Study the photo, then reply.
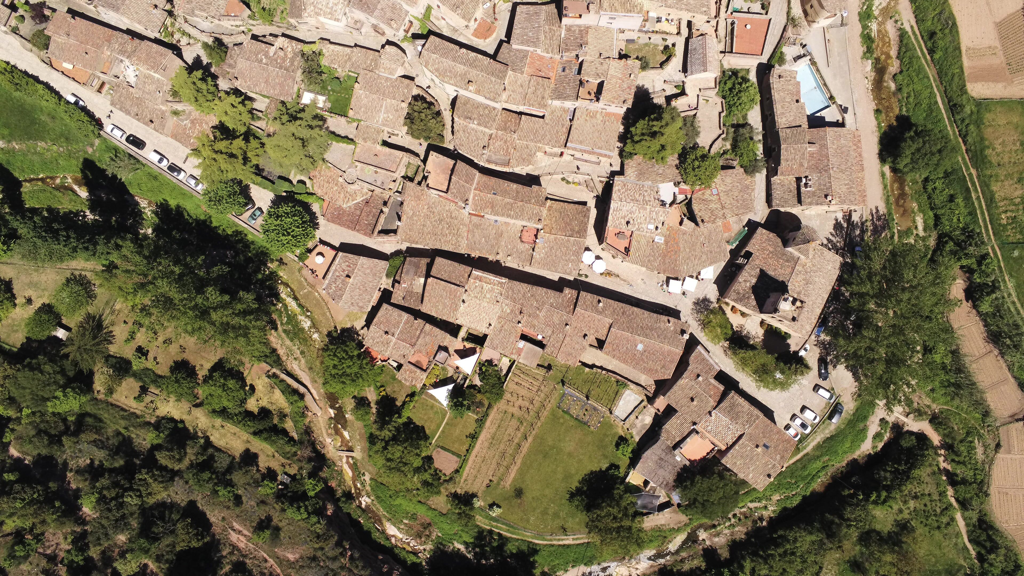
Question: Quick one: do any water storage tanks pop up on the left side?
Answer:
No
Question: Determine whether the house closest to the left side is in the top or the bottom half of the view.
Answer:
top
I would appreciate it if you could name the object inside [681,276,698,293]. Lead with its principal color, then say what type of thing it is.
white umbrella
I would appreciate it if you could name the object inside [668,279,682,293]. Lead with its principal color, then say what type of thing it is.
white umbrella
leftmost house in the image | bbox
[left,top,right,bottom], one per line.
[0,4,28,35]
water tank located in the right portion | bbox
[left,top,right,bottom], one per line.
[614,389,643,420]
